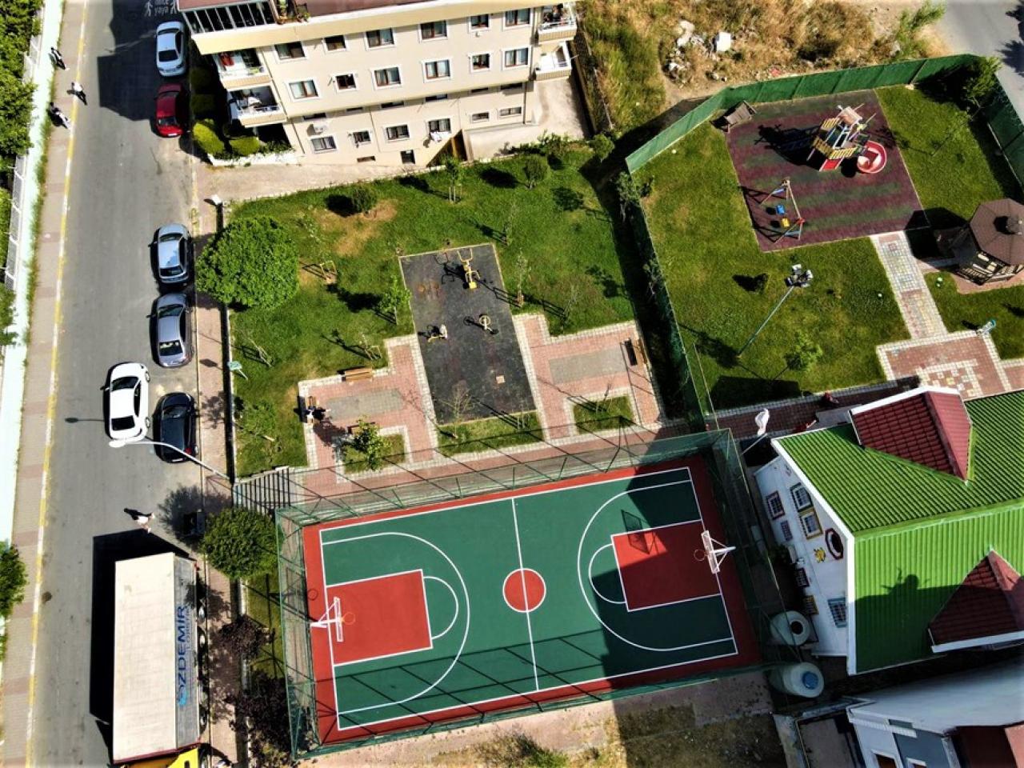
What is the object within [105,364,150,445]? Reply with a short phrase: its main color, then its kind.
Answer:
white car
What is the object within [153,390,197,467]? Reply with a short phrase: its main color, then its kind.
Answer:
black car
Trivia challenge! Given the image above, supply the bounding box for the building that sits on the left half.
[173,0,583,166]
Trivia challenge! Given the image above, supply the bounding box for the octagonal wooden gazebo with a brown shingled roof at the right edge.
[946,202,1024,289]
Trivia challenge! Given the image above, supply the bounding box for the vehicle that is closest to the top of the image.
[153,23,189,81]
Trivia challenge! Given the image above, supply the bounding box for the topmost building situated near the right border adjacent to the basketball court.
[754,388,1024,676]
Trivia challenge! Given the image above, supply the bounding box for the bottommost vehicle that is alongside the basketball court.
[113,552,208,768]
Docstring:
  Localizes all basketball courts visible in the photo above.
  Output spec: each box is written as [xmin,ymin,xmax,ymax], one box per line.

[303,455,760,745]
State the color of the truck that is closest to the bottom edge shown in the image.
white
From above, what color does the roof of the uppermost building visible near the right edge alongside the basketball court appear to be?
green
